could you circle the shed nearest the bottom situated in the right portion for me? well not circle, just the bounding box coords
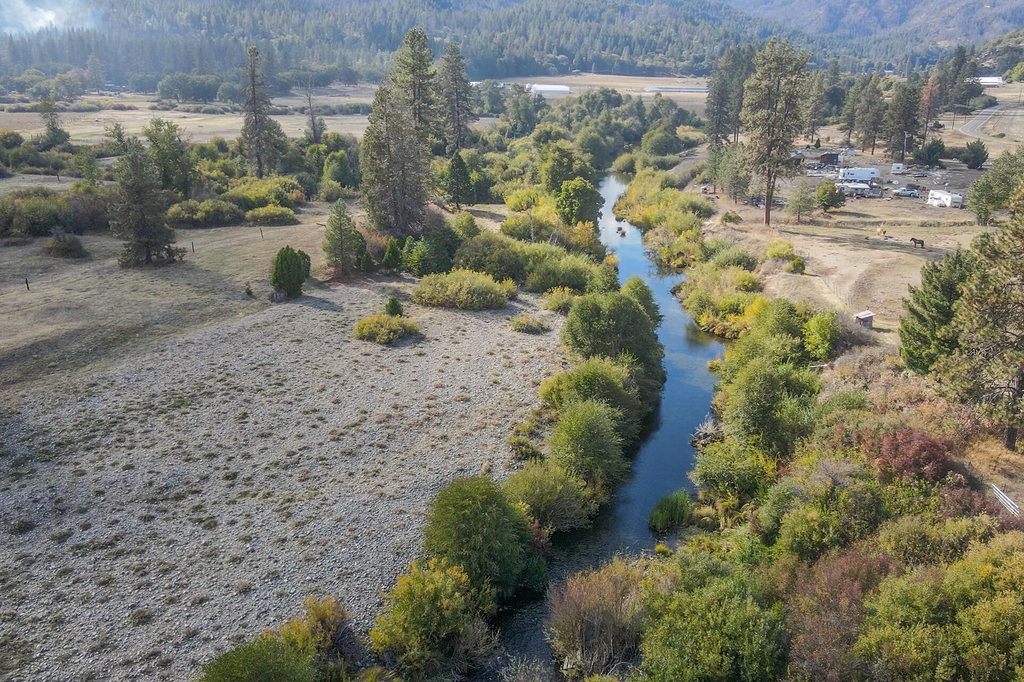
[852,298,879,327]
